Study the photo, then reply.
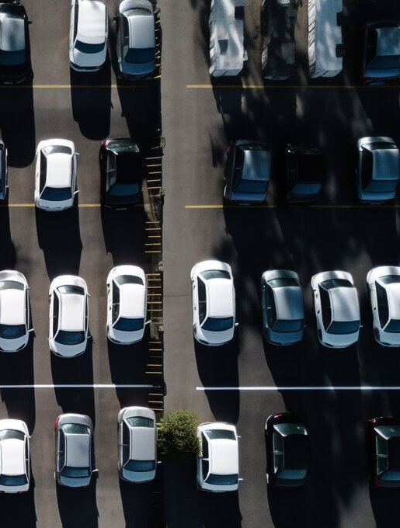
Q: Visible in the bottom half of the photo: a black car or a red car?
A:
black car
